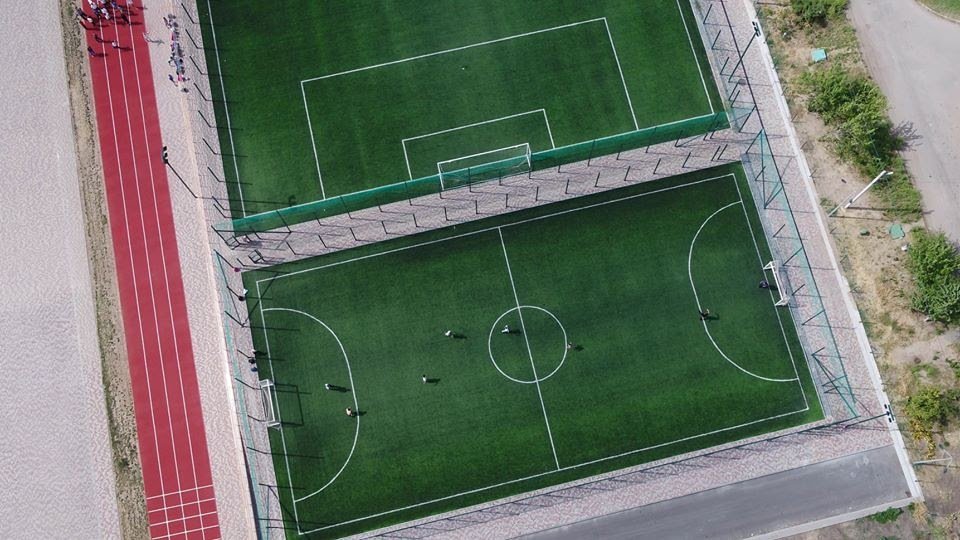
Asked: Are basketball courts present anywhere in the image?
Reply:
No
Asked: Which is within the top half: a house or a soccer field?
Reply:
soccer field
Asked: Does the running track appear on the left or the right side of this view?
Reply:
left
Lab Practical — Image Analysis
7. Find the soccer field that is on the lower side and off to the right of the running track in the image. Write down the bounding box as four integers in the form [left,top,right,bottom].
[241,160,827,540]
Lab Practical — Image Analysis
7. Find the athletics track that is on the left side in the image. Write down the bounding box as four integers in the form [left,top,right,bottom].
[79,0,222,540]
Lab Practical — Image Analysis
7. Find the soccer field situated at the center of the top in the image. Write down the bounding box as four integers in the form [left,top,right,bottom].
[194,0,731,237]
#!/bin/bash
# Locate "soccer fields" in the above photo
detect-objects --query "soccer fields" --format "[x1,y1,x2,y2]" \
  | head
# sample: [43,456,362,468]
[194,0,731,237]
[241,160,827,540]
